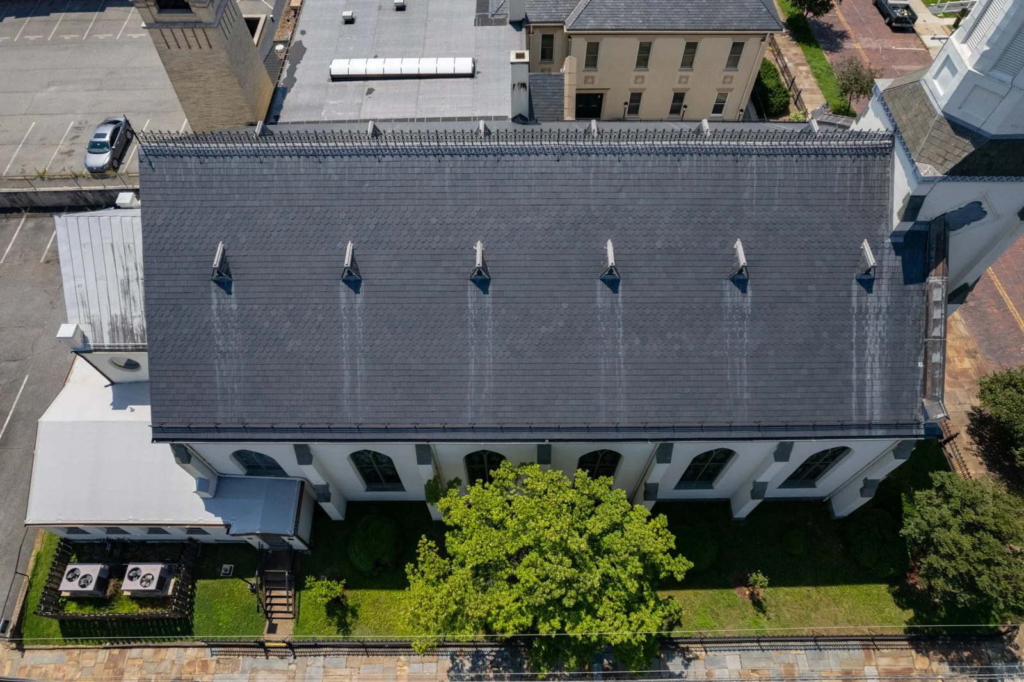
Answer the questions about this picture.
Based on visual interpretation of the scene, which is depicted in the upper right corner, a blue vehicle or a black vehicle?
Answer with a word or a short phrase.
black vehicle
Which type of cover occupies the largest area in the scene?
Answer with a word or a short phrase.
buildings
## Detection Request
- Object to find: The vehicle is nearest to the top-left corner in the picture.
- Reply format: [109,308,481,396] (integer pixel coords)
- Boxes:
[81,115,129,171]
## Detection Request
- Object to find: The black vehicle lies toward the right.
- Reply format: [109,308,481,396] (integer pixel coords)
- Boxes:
[869,0,919,31]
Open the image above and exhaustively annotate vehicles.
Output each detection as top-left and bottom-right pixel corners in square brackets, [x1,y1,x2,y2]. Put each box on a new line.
[869,0,919,31]
[81,115,129,171]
